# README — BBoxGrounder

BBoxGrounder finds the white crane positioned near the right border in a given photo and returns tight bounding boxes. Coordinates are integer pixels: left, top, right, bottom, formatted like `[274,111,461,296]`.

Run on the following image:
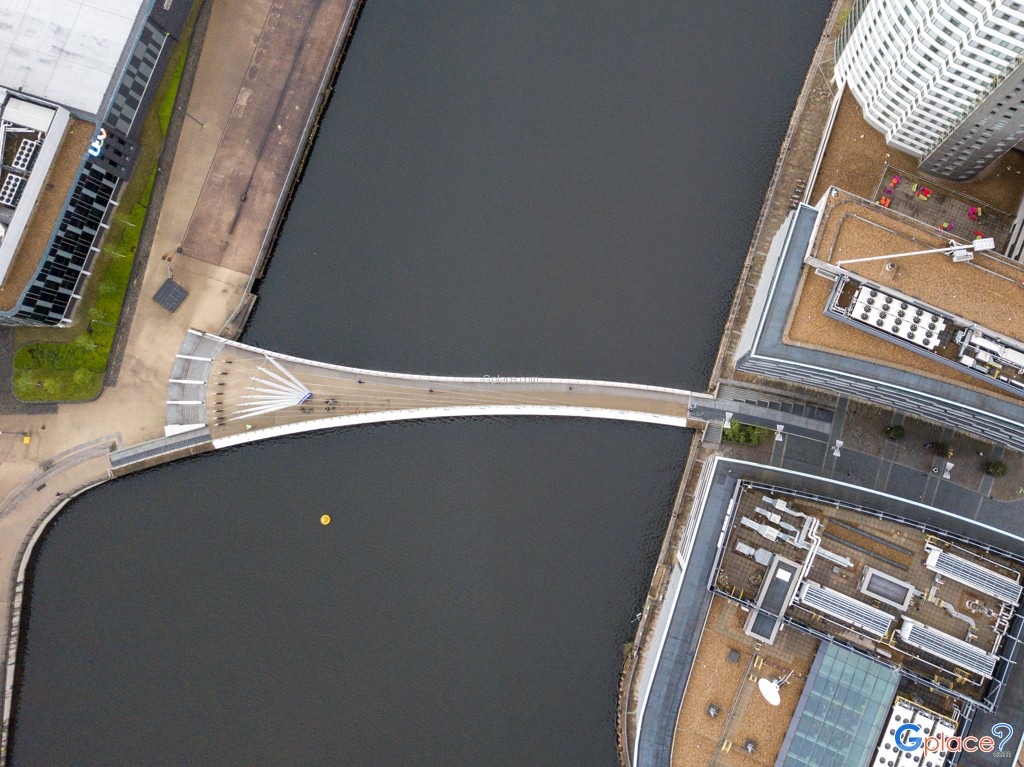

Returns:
[834,238,994,270]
